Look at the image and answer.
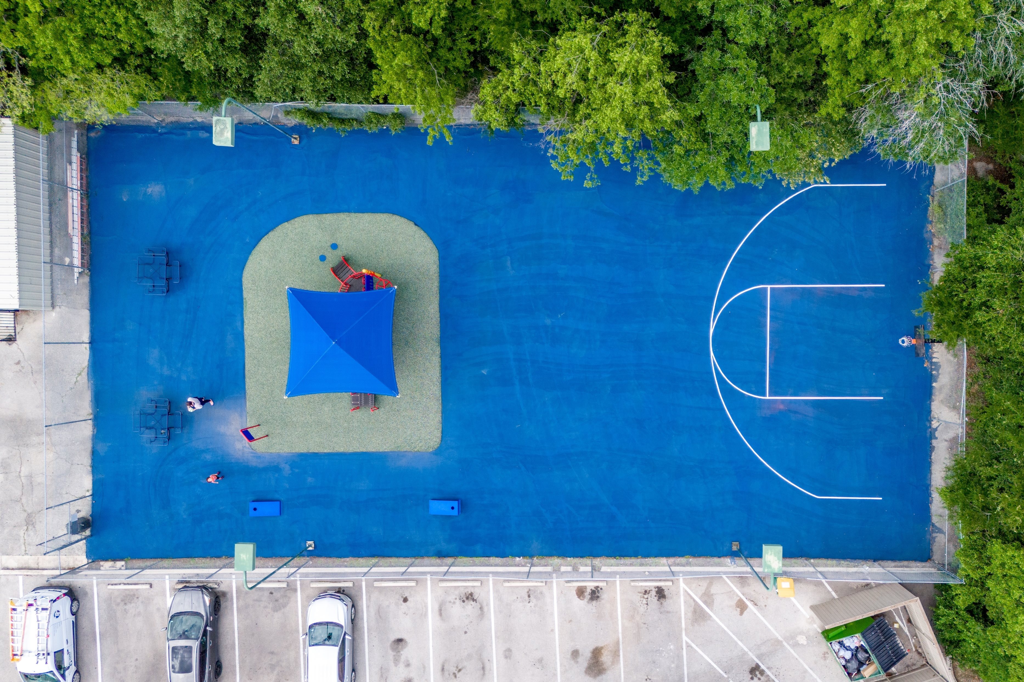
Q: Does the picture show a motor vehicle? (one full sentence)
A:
Yes, there's a motor vehicle down there.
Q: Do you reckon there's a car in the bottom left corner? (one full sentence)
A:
Yes, I can see a car in the bottom left corner.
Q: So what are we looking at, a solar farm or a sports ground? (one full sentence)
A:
This looks like a sports ground.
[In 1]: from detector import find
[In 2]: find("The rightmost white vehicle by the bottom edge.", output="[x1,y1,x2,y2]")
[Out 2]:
[300,590,358,682]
